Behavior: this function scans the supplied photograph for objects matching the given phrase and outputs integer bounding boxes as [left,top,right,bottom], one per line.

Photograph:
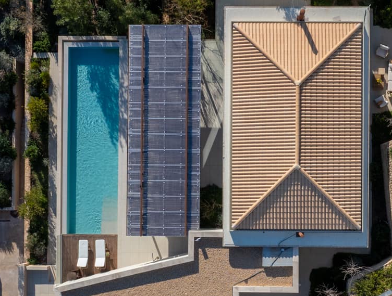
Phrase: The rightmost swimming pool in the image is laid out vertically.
[62,42,119,235]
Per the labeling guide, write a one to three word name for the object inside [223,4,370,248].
house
